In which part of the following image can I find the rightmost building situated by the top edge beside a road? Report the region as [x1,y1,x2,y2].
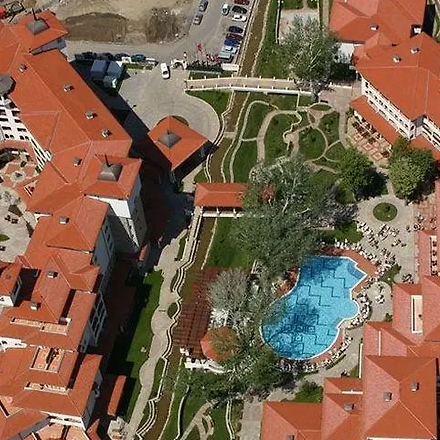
[9,10,72,64]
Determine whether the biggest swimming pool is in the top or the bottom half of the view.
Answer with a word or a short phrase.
bottom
